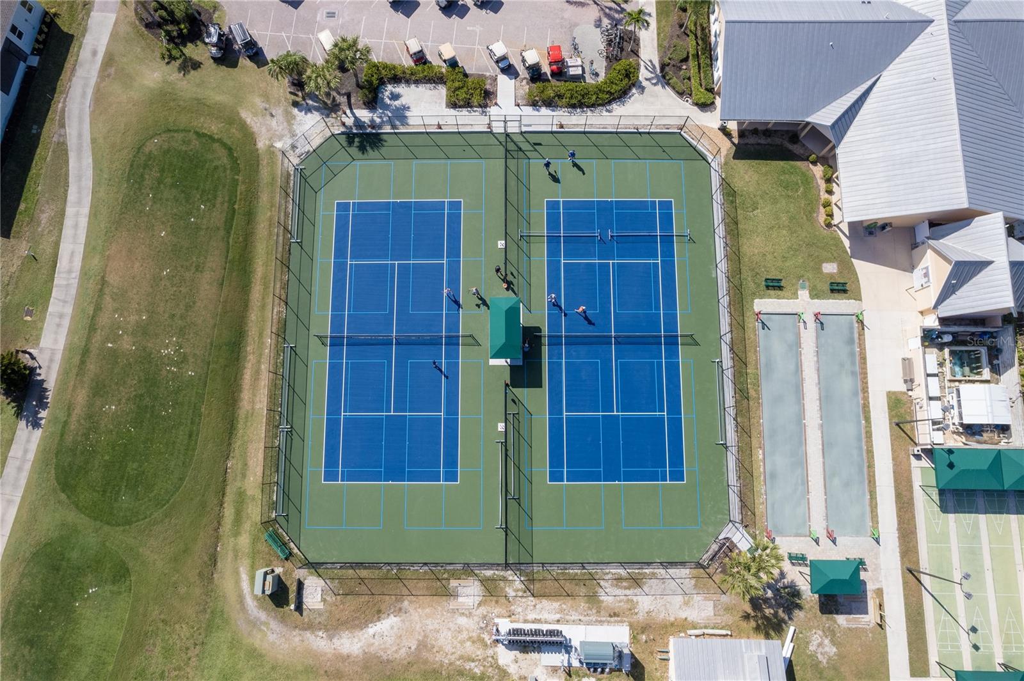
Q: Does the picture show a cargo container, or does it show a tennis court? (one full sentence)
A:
The image shows a tennis court.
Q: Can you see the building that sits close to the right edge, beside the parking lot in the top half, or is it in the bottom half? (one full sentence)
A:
The building that sits close to the right edge, beside the parking lot is in the top half of the image.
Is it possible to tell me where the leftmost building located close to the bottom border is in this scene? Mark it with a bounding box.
[571,641,617,676]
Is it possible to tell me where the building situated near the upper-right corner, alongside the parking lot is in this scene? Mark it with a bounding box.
[709,0,1024,231]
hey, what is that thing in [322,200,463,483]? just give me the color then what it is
blue tennis court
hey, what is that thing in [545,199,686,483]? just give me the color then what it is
blue tennis court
